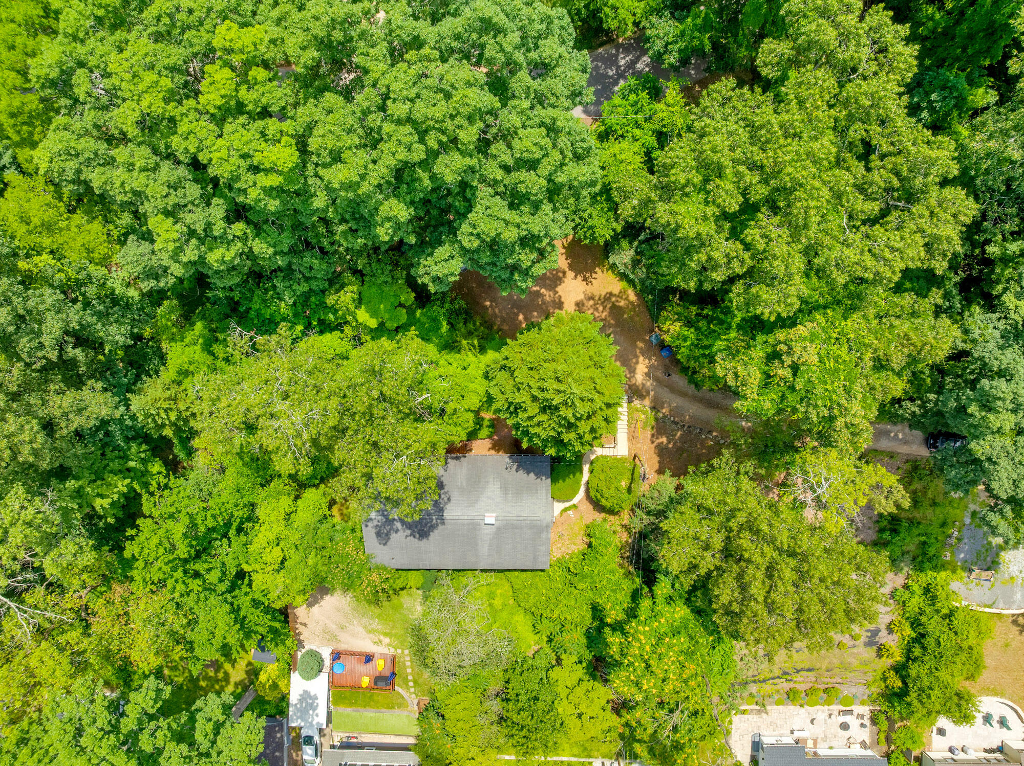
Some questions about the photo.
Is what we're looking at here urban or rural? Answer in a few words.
rural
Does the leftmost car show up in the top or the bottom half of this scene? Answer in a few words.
bottom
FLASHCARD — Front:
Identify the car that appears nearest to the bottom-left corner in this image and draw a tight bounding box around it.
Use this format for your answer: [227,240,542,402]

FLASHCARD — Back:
[298,727,323,766]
